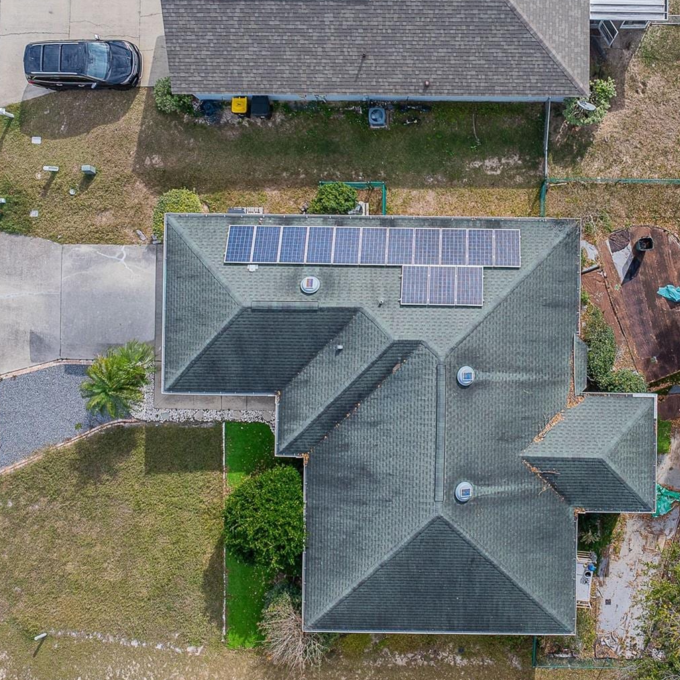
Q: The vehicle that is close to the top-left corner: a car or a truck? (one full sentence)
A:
It looks like the vehicle that is close to the top-left corner is a car.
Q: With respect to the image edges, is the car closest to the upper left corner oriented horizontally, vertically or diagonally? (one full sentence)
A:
The car closest to the upper left corner runs horizontally in the image.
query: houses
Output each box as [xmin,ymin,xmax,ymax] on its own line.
[150,0,668,101]
[161,216,658,633]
